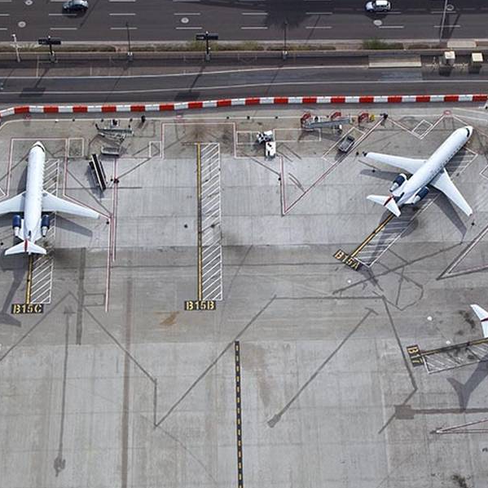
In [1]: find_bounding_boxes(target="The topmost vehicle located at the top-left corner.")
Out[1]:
[62,1,89,13]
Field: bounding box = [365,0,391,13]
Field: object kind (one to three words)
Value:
vehicle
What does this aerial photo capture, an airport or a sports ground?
airport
